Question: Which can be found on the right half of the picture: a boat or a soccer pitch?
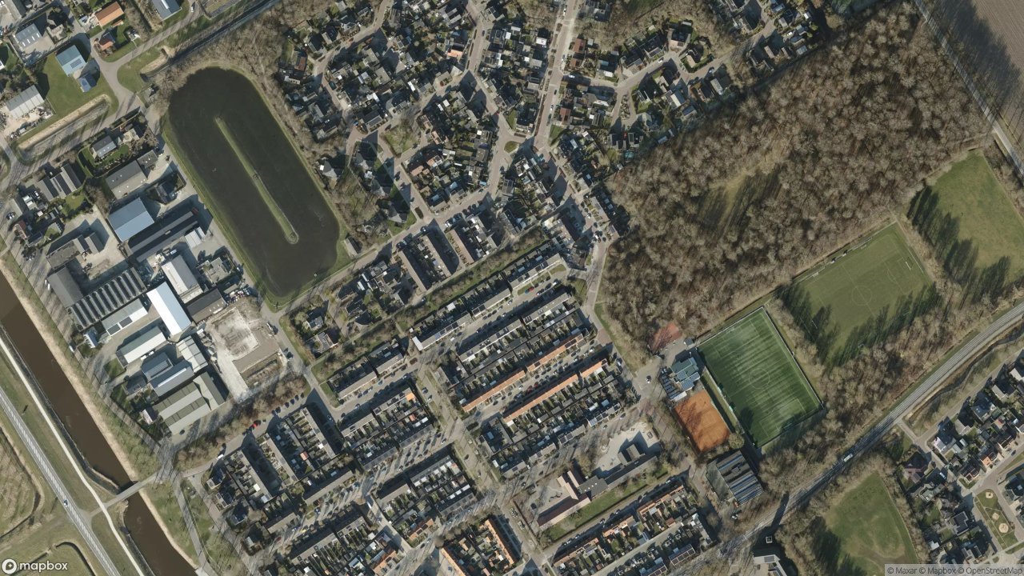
soccer pitch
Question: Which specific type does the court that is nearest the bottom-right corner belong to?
tennis court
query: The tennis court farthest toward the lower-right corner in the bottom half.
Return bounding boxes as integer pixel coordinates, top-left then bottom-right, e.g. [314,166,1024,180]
[675,391,731,452]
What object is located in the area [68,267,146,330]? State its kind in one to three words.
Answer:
building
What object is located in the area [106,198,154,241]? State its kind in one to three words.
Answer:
barn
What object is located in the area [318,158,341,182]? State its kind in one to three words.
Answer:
house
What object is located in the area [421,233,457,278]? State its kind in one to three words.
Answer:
building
